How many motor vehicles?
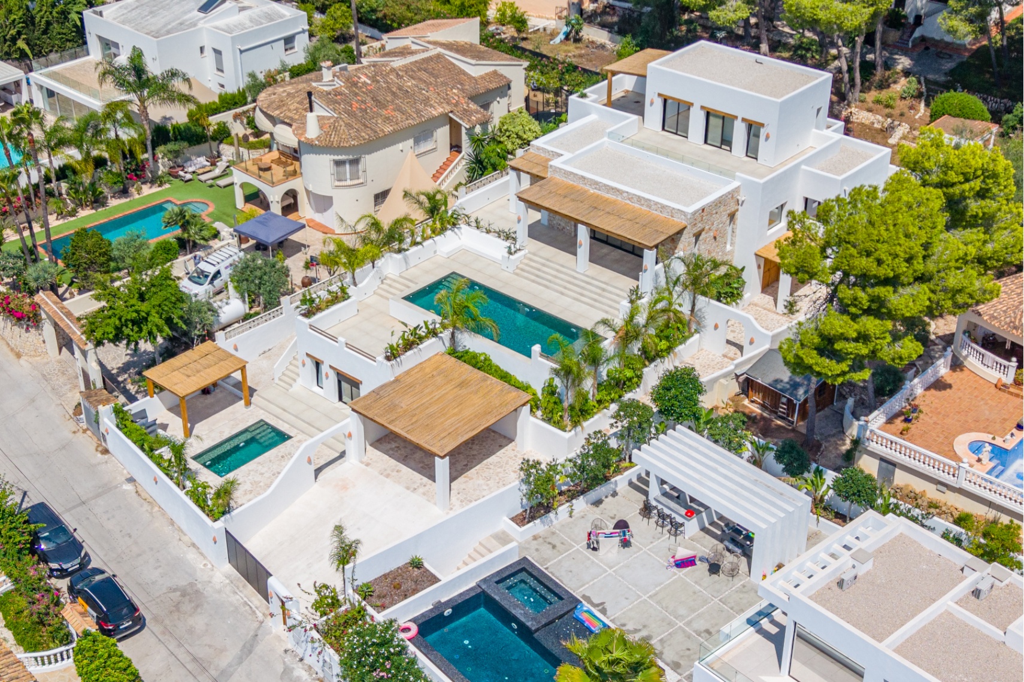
three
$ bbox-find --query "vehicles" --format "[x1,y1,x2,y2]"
[12,491,88,570]
[64,566,145,639]
[187,239,257,302]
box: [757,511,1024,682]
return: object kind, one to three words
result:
house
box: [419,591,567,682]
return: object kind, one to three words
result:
swimming pool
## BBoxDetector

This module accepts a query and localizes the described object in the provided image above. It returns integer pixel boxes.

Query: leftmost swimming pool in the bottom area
[190,418,294,478]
